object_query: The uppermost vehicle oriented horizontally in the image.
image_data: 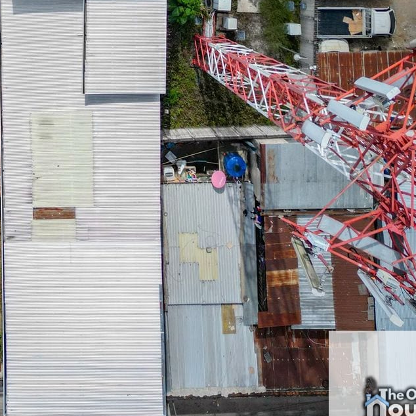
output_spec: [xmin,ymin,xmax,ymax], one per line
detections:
[319,4,394,39]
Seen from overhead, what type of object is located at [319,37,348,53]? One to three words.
car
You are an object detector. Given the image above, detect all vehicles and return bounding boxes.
[319,37,348,53]
[319,4,394,39]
